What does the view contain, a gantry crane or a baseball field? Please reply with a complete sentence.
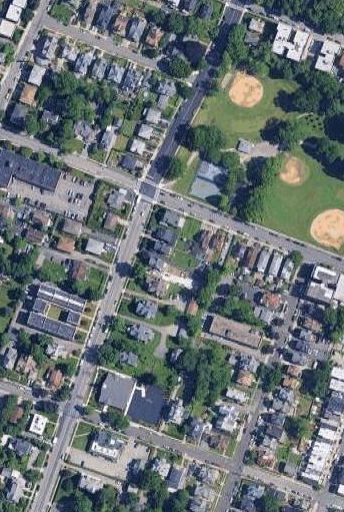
The image shows a baseball field.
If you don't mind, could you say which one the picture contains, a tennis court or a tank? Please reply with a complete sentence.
Of the two, only a tennis court appears.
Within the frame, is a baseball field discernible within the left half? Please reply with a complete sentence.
No, looking within the left half, there is no baseball field.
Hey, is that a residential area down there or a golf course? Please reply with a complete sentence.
What you see here is a residential area.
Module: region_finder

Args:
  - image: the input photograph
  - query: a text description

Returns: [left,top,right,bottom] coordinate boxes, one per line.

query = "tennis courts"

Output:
[189,175,224,201]
[196,159,231,184]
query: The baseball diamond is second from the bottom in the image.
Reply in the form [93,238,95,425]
[273,149,323,190]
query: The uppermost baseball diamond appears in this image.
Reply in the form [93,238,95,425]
[208,65,293,150]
